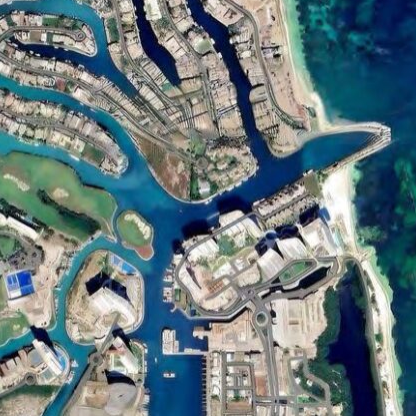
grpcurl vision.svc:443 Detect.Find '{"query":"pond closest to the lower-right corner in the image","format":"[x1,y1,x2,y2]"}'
[325,263,378,416]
